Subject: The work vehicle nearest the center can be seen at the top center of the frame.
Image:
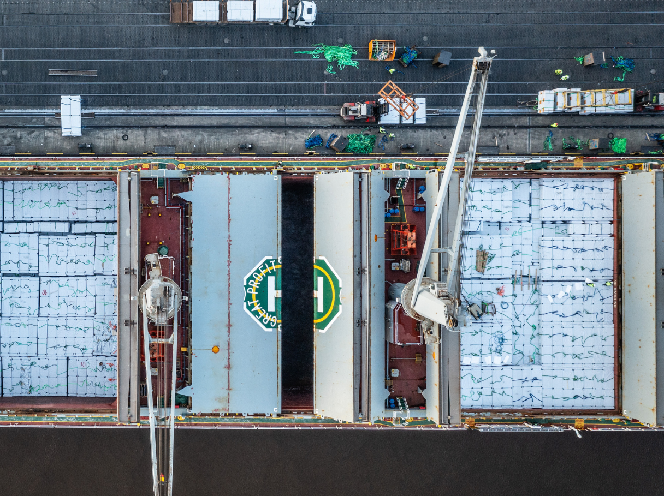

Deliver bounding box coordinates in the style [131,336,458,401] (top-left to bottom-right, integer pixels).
[337,102,381,123]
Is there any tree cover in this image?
No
